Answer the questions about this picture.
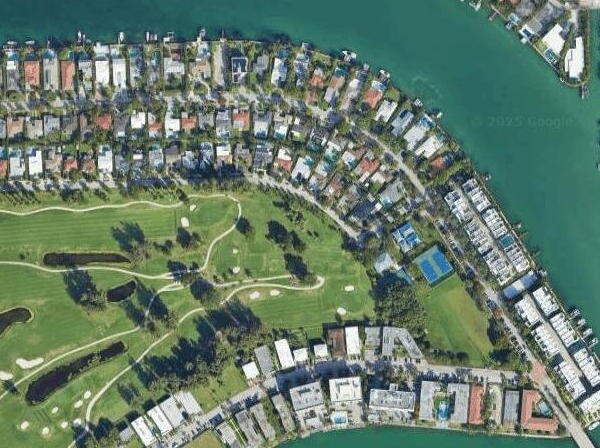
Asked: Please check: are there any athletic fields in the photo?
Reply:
Yes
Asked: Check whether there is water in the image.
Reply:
Yes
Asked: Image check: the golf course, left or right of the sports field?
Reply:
to its left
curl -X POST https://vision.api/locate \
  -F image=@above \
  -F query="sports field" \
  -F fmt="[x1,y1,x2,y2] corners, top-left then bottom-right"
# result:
[417,273,493,364]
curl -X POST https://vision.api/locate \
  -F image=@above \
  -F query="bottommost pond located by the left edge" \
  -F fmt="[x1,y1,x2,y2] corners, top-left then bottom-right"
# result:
[25,342,125,404]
